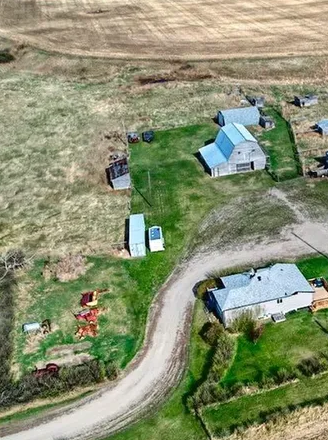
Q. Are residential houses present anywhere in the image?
Yes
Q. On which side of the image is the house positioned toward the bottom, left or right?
right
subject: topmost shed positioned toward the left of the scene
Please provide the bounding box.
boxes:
[108,164,133,189]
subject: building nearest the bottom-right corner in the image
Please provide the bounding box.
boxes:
[212,262,315,325]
